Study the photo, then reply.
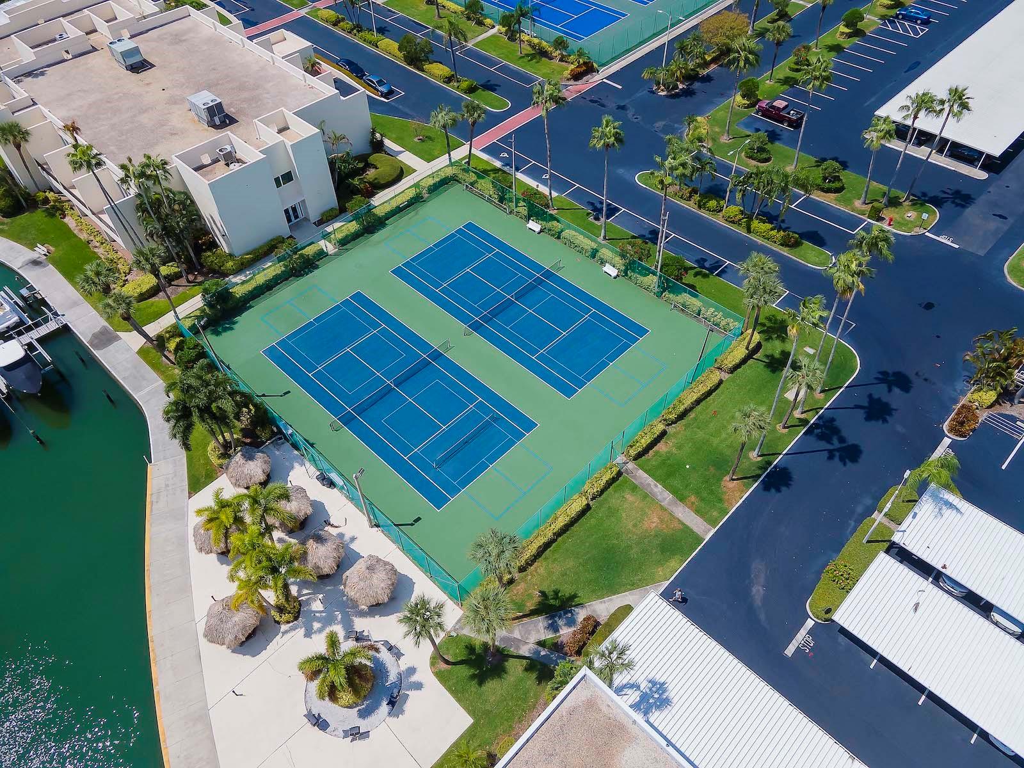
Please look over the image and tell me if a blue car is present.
Yes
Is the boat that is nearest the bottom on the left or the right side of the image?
left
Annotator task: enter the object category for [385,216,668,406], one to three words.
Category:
tennis court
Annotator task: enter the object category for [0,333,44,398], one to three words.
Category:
boat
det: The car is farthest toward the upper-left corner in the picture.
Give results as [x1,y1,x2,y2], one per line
[338,56,368,76]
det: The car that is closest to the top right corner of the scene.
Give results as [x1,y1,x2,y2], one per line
[896,5,932,22]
